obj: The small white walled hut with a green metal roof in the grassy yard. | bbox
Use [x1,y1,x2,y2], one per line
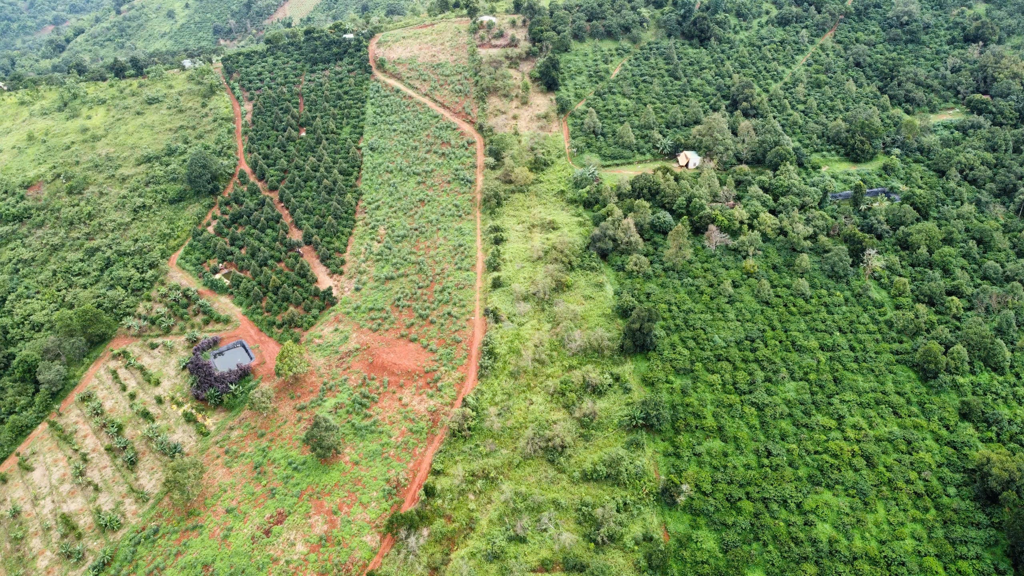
[671,150,702,174]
